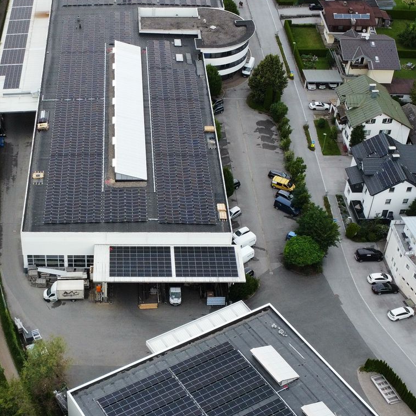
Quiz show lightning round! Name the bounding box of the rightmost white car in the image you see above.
[385,306,416,321]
